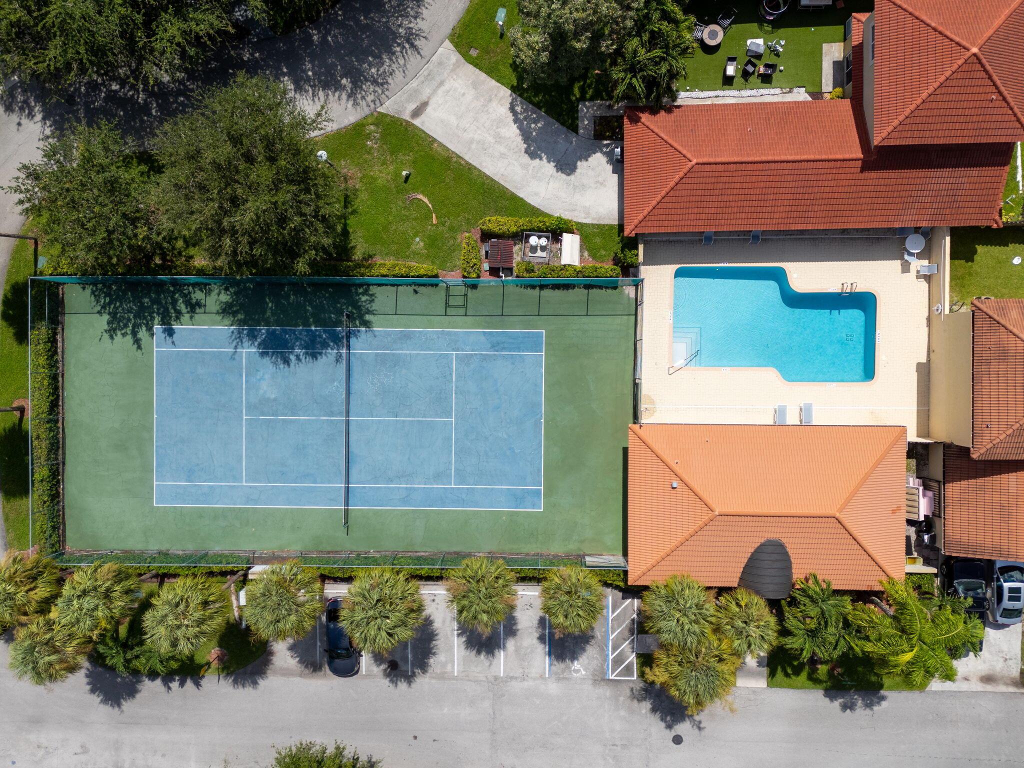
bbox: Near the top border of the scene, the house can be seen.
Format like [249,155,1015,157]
[623,0,1024,238]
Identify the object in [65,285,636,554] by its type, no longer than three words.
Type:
tennis court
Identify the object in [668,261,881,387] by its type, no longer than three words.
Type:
swimming pool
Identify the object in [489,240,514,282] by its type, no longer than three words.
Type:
shed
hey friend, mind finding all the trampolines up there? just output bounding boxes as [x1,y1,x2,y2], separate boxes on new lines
[756,0,794,32]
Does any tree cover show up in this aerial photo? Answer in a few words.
Yes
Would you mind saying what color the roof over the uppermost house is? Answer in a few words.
red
